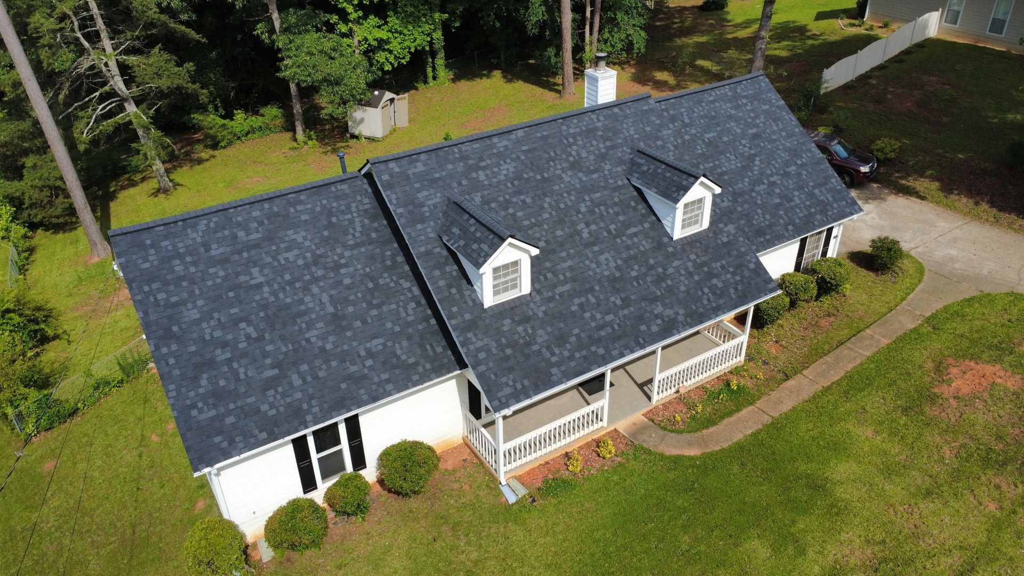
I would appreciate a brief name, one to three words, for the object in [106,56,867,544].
house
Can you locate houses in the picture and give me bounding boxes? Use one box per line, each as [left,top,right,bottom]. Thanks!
[867,0,1024,55]
[106,56,867,544]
